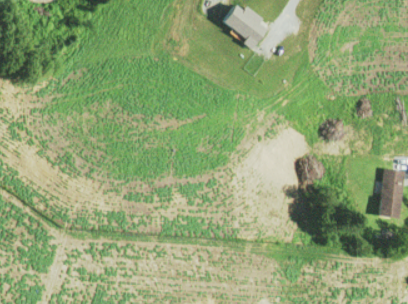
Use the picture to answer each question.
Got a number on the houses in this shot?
2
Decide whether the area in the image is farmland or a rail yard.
farmland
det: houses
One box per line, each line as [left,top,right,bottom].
[223,4,269,53]
[372,168,406,220]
